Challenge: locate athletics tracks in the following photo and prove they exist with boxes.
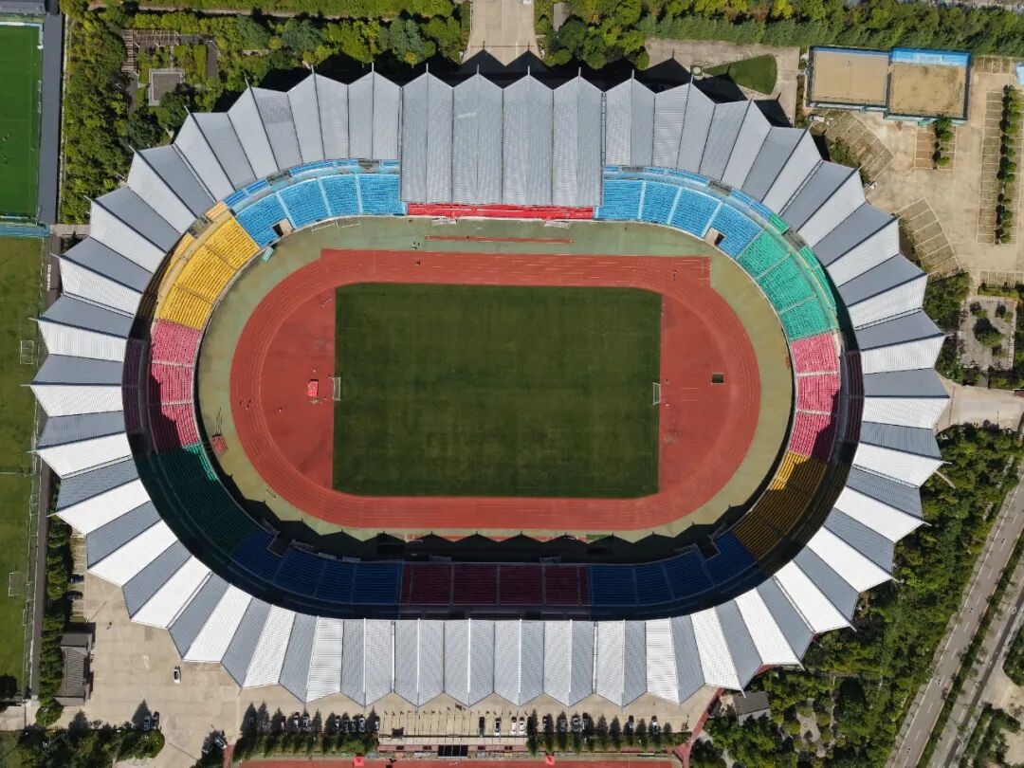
[232,247,761,532]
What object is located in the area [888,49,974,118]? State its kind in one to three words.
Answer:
sports court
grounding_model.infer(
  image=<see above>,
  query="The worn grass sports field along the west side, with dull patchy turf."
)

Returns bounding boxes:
[0,237,43,697]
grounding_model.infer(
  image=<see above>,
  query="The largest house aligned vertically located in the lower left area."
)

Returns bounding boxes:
[58,628,96,704]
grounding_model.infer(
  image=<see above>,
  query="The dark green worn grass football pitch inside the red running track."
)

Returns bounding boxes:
[333,281,660,499]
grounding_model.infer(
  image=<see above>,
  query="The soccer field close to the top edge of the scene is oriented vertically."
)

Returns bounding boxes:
[0,26,40,219]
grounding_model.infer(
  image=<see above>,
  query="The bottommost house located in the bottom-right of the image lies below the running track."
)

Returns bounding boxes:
[729,685,773,725]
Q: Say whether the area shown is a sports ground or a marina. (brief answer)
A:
sports ground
